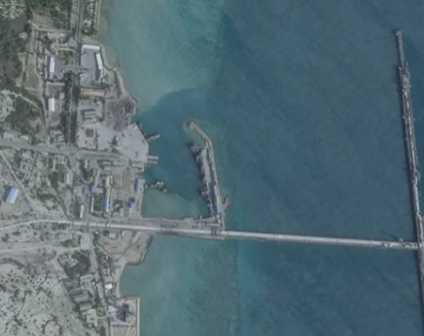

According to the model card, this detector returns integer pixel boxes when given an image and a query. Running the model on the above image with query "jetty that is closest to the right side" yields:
[395,30,424,309]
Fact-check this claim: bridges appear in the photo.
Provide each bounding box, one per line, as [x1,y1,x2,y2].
[141,225,415,249]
